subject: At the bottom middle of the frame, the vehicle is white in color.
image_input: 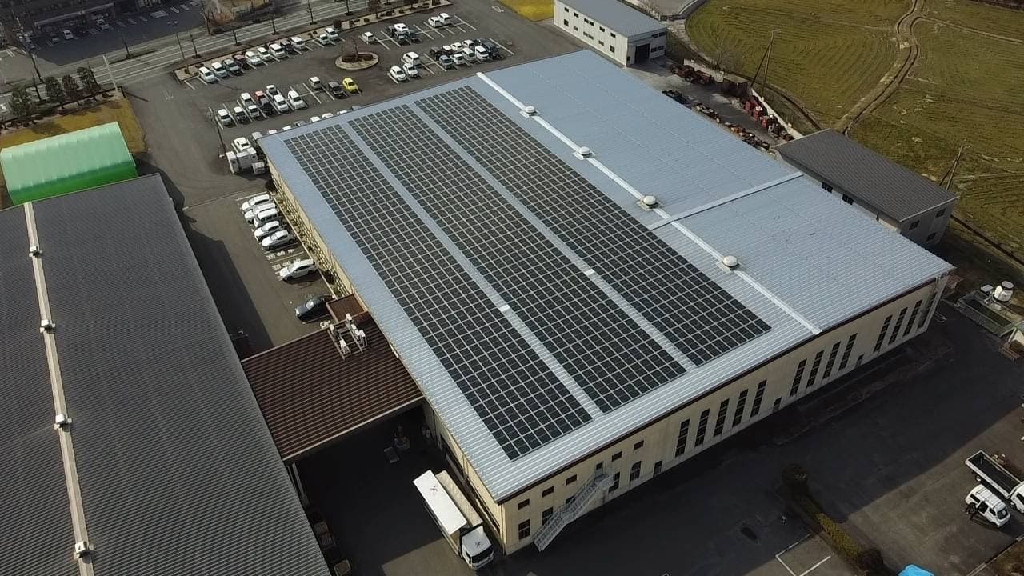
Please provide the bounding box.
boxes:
[413,462,500,571]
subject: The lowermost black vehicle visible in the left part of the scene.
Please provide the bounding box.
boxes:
[291,295,334,322]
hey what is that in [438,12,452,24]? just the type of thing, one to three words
vehicle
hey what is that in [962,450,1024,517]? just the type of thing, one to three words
truck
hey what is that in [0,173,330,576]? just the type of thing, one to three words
building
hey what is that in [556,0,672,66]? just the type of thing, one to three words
building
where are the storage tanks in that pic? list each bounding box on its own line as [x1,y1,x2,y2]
[986,277,1019,309]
